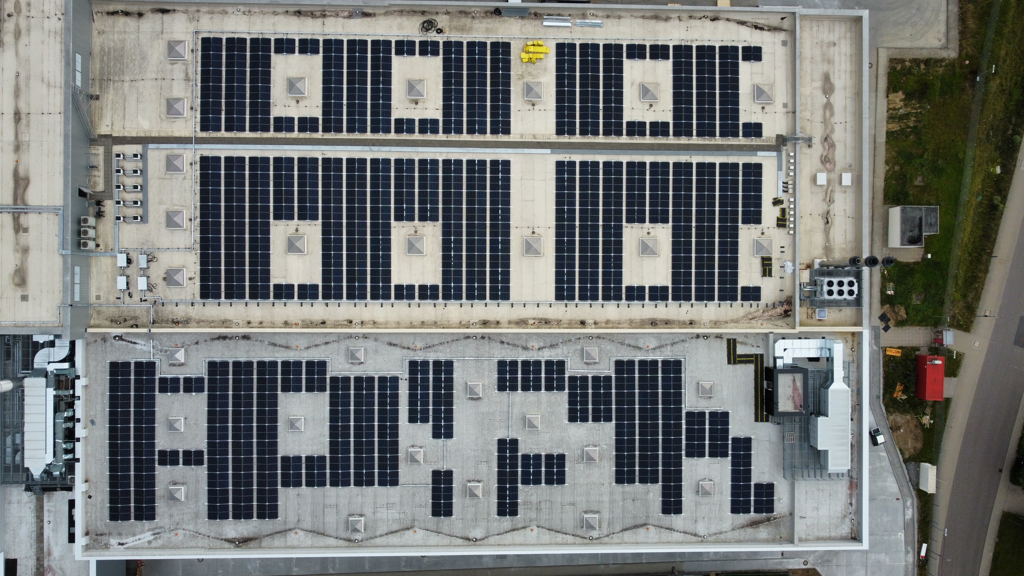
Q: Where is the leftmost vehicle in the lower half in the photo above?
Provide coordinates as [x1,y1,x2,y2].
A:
[869,427,888,451]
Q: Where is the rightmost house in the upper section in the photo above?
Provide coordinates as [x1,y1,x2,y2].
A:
[889,206,939,247]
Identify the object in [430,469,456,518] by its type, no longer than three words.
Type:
solar array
